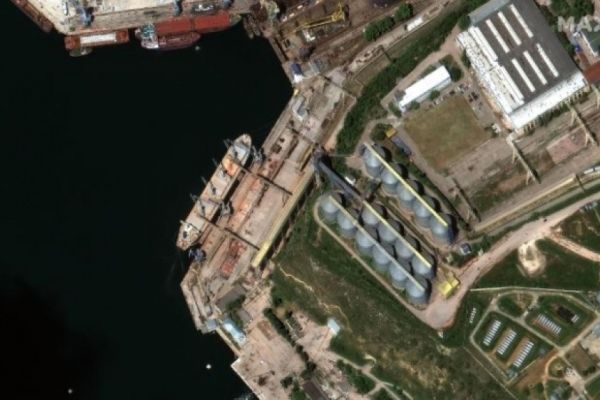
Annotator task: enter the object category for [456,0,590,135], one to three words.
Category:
building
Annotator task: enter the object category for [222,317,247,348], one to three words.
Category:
building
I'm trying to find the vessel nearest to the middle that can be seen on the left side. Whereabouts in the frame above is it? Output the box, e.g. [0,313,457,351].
[178,131,254,251]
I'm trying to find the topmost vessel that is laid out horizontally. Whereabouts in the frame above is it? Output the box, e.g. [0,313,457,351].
[141,11,241,37]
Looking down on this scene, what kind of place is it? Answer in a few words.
port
